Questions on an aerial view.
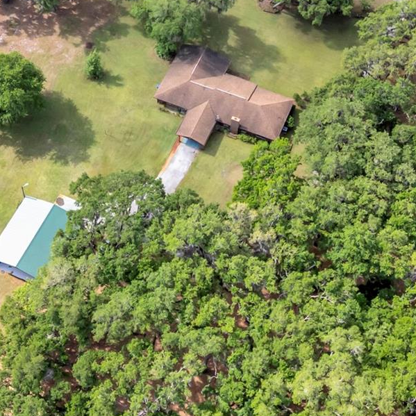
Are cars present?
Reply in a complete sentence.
No, the frame has no car in it.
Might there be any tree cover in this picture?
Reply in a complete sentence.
Yes, tree cover can be seen from above here.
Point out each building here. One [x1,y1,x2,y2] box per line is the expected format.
[153,46,294,153]
[0,198,81,290]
